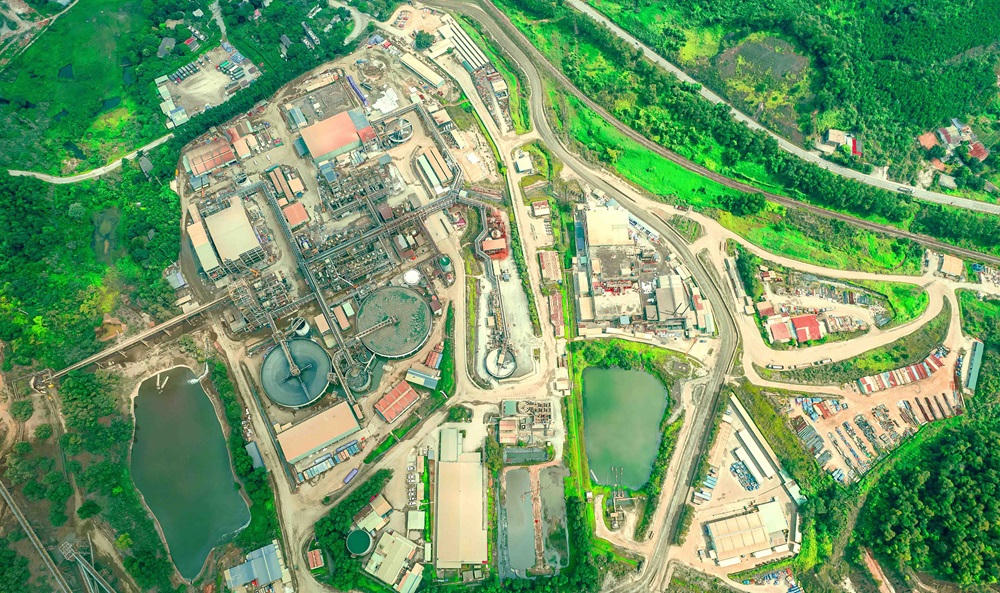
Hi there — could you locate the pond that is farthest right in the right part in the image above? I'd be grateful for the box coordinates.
[582,366,669,490]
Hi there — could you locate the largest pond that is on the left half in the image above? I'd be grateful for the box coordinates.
[131,366,252,581]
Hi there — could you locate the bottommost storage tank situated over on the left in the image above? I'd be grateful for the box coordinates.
[346,528,374,557]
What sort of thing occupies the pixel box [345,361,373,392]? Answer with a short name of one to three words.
storage tank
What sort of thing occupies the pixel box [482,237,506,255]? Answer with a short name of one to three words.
house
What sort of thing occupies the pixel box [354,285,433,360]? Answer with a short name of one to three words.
storage tank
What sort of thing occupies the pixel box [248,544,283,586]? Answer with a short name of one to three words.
building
